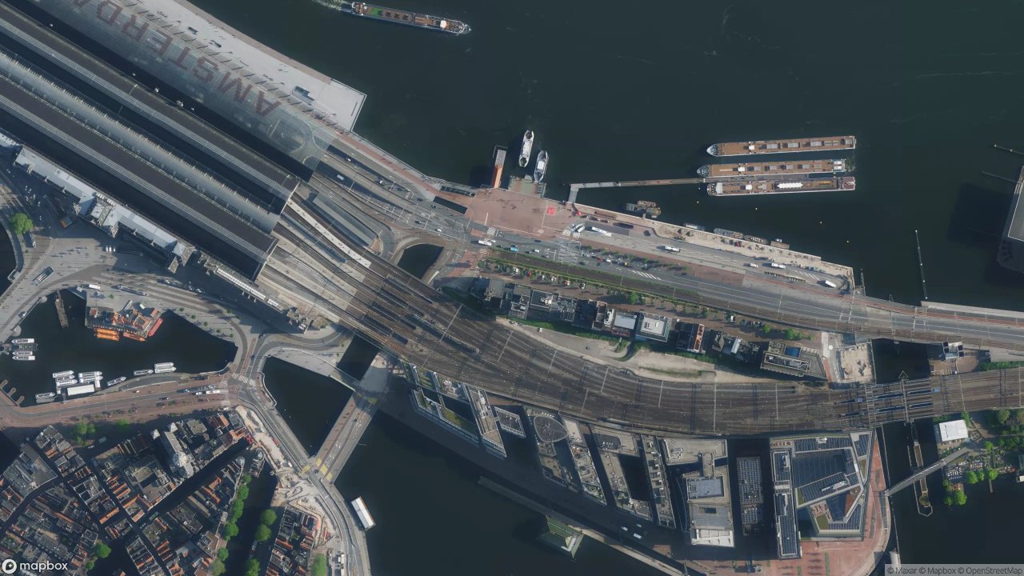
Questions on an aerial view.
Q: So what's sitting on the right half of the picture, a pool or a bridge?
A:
bridge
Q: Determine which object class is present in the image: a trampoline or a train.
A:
train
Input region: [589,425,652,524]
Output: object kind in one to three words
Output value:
building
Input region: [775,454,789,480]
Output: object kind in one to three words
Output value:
solar array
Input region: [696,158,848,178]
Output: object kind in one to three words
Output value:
ship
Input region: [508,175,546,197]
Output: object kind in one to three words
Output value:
pier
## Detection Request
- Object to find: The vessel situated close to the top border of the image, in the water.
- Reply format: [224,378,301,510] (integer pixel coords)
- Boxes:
[349,3,471,34]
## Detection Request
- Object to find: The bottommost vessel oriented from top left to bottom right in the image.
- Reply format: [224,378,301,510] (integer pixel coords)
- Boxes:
[351,498,375,527]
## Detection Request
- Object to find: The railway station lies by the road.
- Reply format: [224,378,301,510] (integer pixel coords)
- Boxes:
[0,0,376,323]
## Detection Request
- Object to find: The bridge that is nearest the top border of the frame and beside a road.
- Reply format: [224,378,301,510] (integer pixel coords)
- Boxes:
[851,294,930,346]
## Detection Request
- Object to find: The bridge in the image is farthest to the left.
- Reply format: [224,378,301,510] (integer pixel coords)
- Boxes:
[309,379,390,483]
